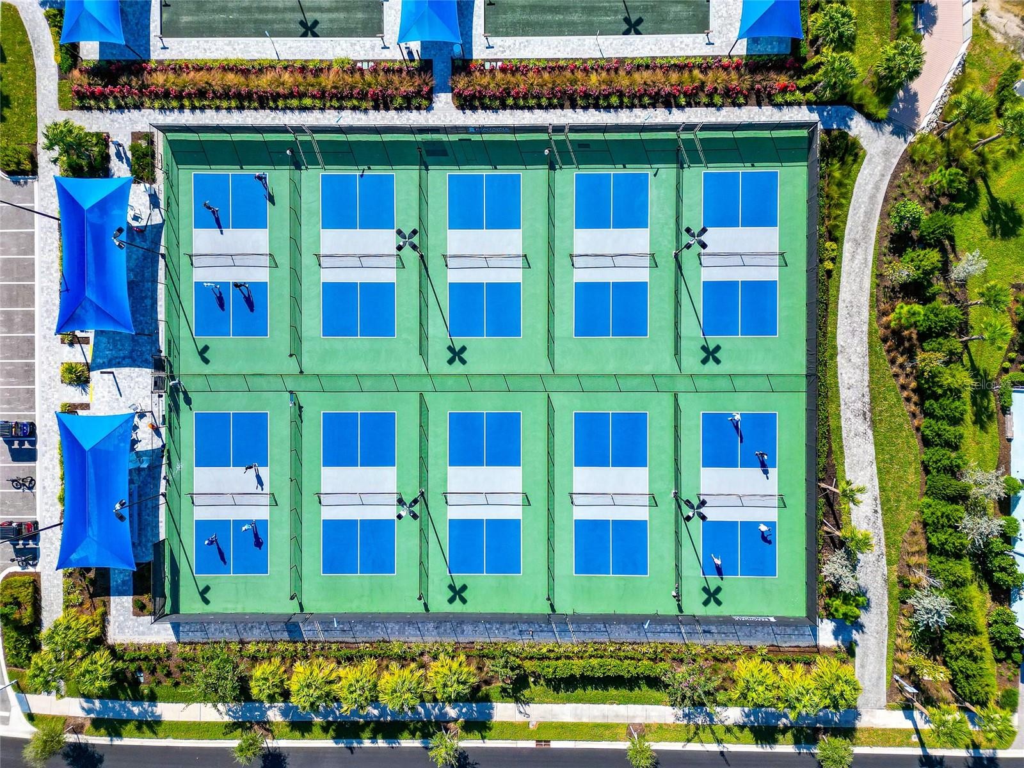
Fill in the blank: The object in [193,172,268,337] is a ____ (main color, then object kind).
blue sports court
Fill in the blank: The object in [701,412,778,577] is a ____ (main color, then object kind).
blue sports court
